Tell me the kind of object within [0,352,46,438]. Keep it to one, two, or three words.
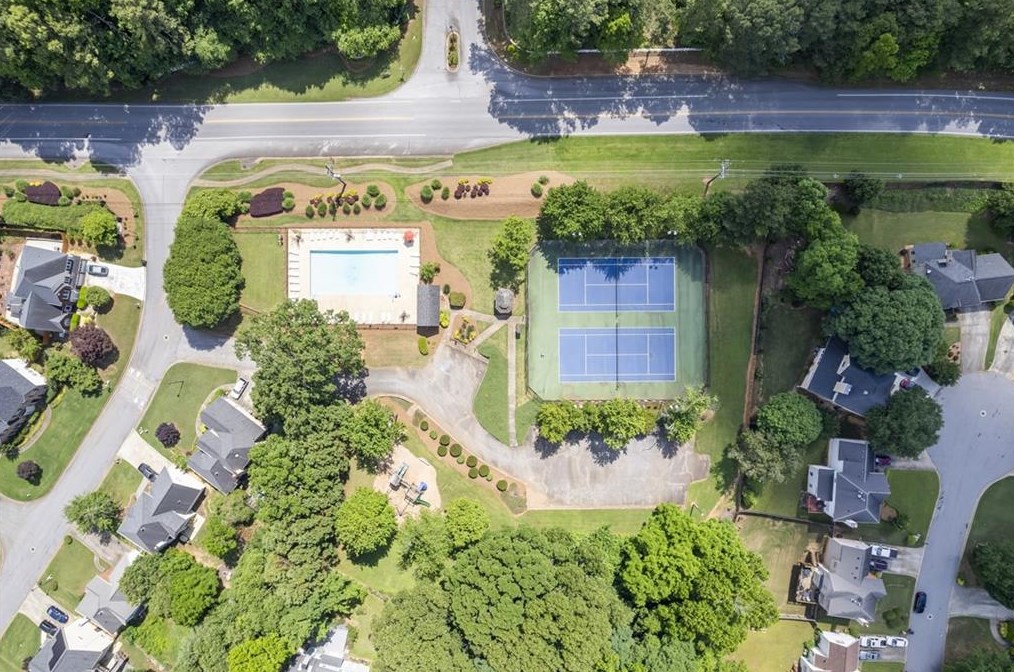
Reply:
house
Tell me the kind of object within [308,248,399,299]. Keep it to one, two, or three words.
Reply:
swimming pool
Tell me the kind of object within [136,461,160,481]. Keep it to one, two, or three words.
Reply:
car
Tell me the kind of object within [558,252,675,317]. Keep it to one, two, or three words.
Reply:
tennis court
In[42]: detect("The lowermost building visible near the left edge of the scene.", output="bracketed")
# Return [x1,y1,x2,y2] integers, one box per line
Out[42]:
[30,617,115,672]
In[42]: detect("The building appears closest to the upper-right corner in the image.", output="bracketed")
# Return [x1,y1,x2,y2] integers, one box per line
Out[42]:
[902,240,1014,311]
